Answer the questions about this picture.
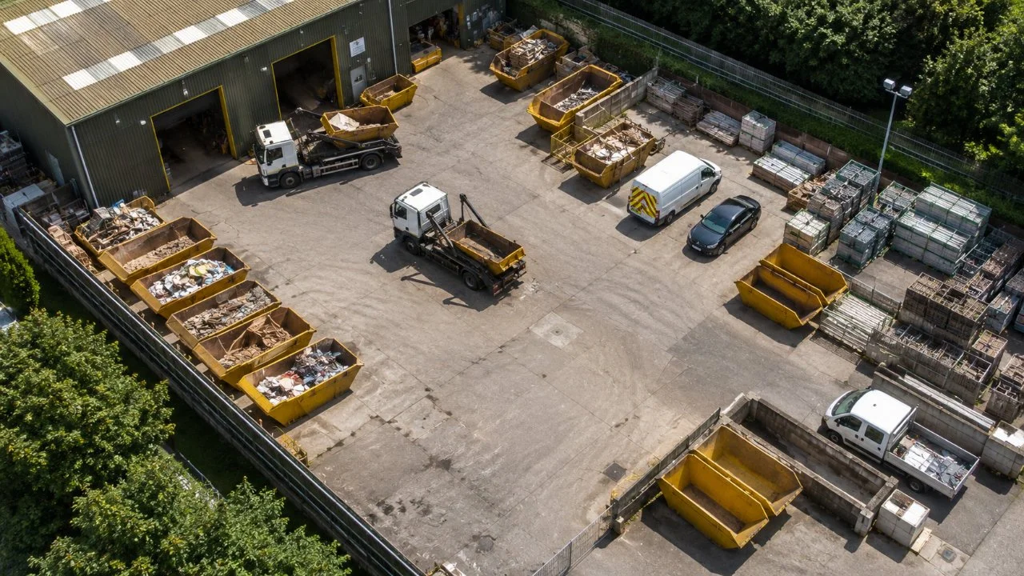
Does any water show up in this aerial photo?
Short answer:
No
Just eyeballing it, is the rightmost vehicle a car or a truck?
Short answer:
truck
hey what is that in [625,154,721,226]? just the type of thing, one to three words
van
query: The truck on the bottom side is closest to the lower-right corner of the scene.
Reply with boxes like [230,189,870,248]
[816,388,984,504]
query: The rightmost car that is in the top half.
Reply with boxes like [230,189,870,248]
[683,194,763,257]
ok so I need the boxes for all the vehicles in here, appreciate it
[816,388,984,504]
[385,180,530,300]
[245,109,406,187]
[625,154,721,226]
[683,194,763,257]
